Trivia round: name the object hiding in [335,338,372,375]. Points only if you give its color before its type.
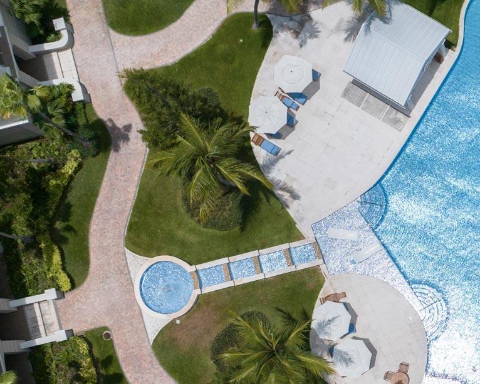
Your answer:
white umbrella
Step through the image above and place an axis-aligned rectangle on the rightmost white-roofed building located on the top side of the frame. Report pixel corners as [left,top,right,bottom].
[342,0,451,114]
